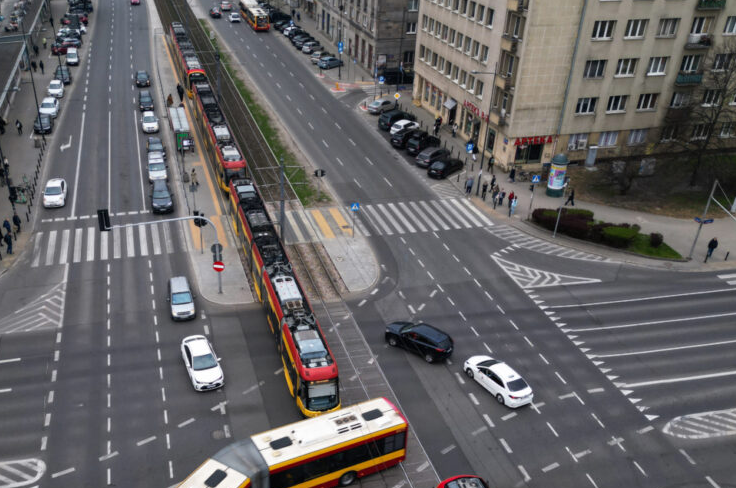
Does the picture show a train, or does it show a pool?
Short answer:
train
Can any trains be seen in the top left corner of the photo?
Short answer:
Yes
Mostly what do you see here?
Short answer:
paved ground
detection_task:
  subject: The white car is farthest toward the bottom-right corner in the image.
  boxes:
[459,359,535,406]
